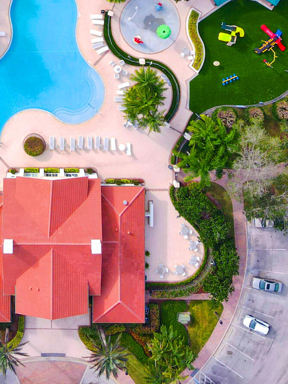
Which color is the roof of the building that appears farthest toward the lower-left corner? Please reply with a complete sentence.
The roof over the building that appears farthest toward the lower-left corner appears red.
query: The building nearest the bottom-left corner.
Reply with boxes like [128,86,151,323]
[0,171,154,324]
